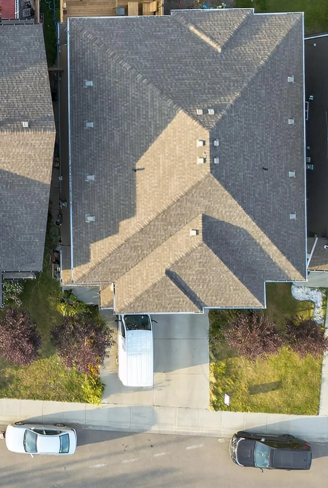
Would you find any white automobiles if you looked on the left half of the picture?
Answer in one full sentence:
Yes, looking on the left half of the picture, one can make out a white automobile.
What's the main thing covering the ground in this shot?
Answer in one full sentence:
For the most part, this view shows buildings.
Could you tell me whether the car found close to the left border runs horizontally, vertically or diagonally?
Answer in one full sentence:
The car found close to the left border is oriented horizontally.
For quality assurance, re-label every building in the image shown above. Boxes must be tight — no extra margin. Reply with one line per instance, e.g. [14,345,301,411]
[50,6,310,316]
[0,16,55,307]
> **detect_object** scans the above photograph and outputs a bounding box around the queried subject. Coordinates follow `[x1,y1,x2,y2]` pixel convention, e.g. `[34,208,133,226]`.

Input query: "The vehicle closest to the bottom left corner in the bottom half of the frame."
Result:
[4,421,77,457]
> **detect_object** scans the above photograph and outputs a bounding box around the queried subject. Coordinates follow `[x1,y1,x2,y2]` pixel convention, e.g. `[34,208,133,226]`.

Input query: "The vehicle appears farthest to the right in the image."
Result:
[227,431,311,471]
